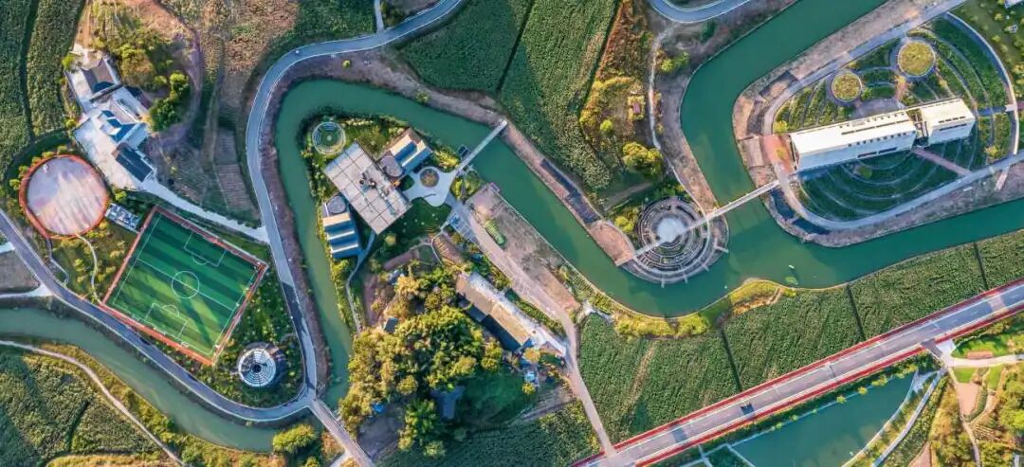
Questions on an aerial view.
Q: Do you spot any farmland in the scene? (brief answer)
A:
Yes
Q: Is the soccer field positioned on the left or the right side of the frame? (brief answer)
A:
left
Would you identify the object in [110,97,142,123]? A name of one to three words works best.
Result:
house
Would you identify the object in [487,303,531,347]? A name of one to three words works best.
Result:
house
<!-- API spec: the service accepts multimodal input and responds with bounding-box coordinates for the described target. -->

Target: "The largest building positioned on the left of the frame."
[322,141,412,234]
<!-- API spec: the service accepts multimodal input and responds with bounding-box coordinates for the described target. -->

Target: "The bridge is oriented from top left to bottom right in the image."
[304,395,376,467]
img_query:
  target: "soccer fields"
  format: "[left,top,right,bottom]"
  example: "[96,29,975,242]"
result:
[103,207,268,365]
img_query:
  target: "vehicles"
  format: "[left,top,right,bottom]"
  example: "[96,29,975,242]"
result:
[139,337,150,346]
[187,373,198,382]
[293,48,301,54]
[739,405,754,415]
